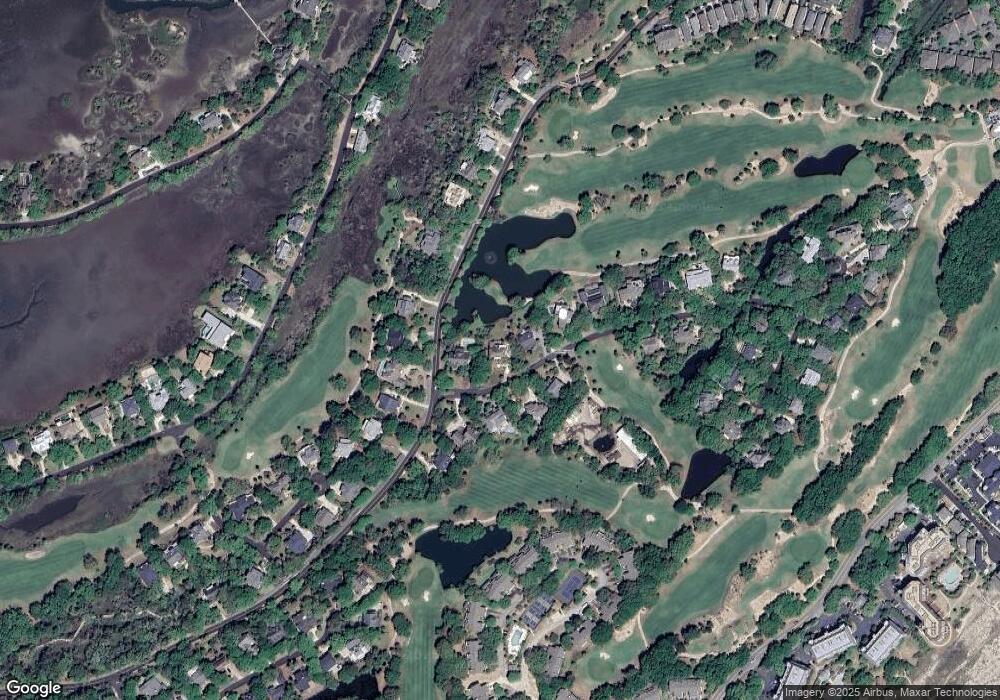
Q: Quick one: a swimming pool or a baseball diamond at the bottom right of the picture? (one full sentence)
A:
Visible at the bottom right of the picture is a swimming pool.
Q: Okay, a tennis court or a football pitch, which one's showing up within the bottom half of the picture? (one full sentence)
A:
It is a tennis court that can be seen within the bottom half of the picture.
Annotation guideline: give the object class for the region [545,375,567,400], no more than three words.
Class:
house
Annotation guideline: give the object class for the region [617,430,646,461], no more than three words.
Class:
building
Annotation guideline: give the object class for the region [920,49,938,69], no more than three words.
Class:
house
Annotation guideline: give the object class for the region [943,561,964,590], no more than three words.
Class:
swimming pool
